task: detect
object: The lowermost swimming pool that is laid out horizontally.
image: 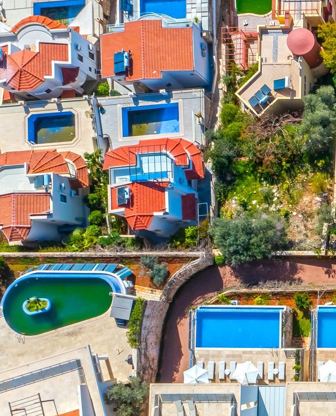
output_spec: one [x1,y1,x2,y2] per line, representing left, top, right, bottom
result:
[193,305,292,350]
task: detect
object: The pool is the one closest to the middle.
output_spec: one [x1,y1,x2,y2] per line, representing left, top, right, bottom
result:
[115,97,185,143]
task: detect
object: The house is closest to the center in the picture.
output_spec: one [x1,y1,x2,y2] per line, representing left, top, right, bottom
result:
[102,137,206,234]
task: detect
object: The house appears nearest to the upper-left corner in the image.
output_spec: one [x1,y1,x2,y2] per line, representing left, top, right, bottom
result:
[0,14,95,101]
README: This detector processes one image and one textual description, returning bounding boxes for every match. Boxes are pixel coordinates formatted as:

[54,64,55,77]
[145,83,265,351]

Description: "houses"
[0,14,95,101]
[235,0,336,123]
[102,137,206,234]
[0,150,90,246]
[286,378,336,416]
[100,11,211,93]
[150,379,259,416]
[0,345,128,416]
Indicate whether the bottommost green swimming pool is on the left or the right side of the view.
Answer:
left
